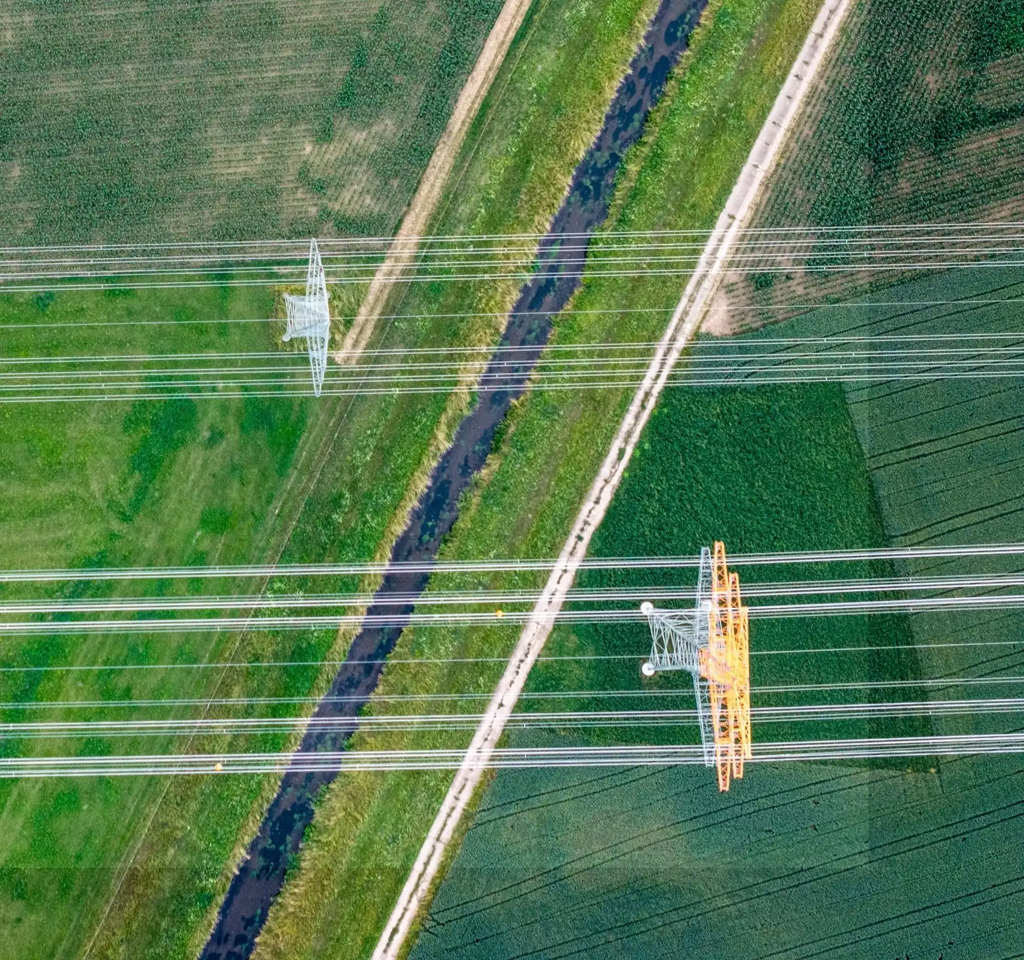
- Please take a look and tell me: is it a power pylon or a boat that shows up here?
power pylon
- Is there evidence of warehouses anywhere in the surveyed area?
No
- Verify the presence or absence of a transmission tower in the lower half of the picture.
Yes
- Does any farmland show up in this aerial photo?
Yes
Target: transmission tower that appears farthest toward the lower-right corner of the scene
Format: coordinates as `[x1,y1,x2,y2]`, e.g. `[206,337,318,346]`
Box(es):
[641,540,754,792]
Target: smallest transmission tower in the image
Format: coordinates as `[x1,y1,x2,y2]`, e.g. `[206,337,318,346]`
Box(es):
[281,238,334,397]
